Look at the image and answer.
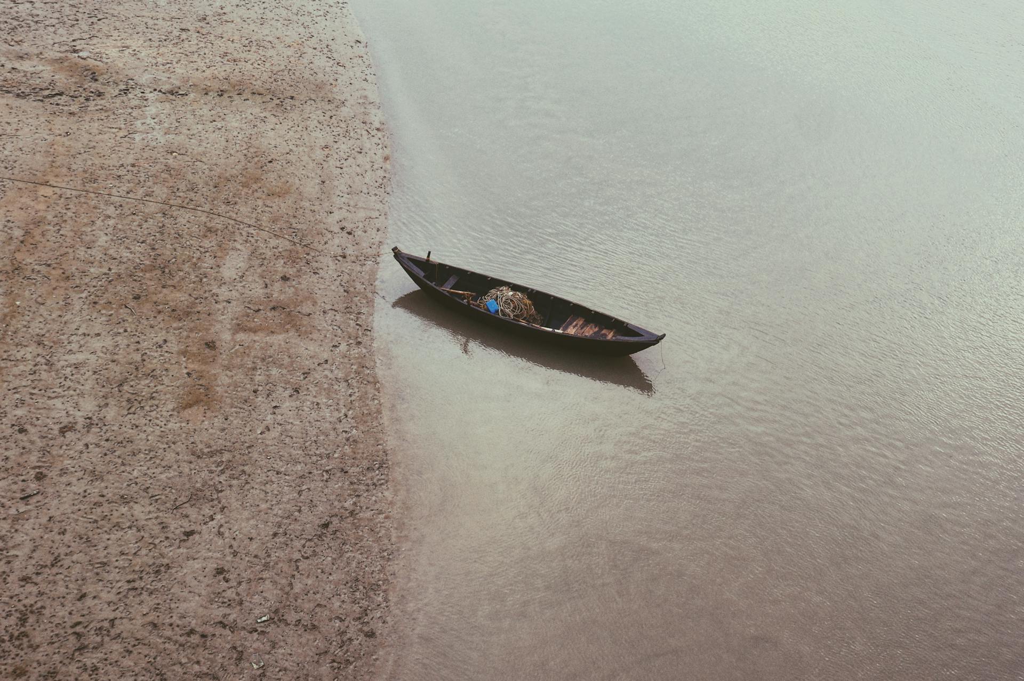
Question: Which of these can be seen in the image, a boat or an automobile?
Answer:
boat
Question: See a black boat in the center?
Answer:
Yes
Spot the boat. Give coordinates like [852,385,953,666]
[388,245,670,359]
